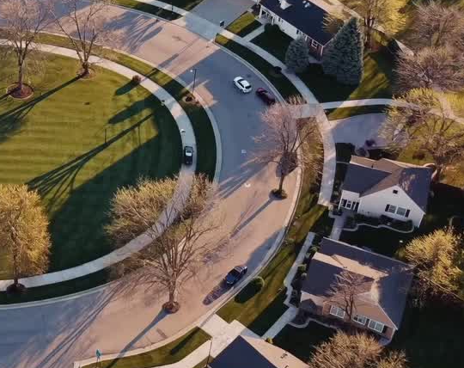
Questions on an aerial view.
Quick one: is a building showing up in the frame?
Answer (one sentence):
Yes, you can see a building in this photo.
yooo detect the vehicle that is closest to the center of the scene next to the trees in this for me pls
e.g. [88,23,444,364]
[183,144,195,164]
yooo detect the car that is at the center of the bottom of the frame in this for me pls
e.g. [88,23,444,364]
[221,259,253,287]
